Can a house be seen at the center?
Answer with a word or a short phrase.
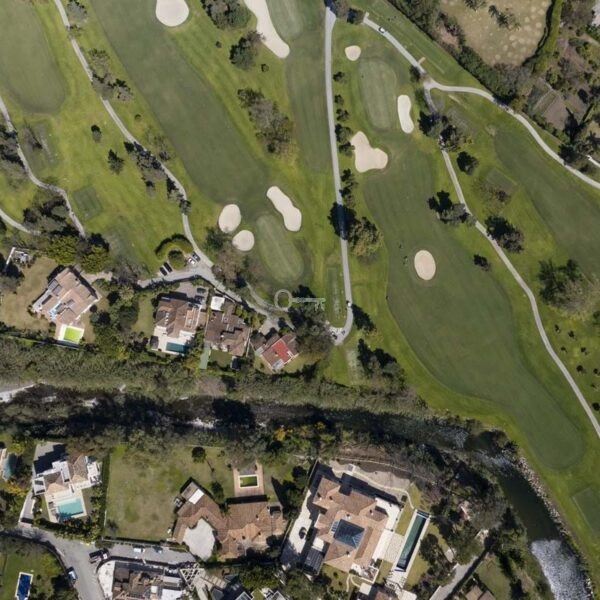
Yes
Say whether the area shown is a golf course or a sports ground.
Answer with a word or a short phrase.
golf course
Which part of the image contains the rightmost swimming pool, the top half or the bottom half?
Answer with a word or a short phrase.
bottom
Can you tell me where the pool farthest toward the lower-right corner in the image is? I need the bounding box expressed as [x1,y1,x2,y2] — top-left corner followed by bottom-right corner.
[393,510,431,573]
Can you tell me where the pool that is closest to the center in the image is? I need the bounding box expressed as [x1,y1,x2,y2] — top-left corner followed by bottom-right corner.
[165,342,187,354]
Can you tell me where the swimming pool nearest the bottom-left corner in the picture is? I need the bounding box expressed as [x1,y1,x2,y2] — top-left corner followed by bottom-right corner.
[13,573,33,600]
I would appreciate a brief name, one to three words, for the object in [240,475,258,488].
swimming pool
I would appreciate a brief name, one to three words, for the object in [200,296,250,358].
house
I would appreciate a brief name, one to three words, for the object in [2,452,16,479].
swimming pool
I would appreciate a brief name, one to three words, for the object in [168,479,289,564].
house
